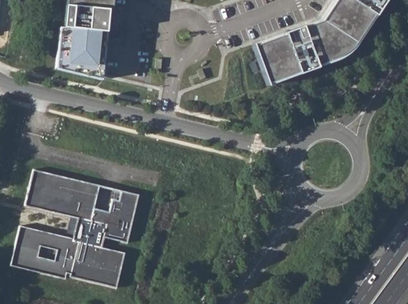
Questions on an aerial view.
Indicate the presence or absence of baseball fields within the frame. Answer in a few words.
No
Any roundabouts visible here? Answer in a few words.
Yes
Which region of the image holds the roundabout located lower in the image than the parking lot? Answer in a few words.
right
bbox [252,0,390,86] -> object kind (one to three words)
building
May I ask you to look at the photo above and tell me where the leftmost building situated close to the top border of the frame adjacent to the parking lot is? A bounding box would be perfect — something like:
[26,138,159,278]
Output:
[52,0,117,81]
